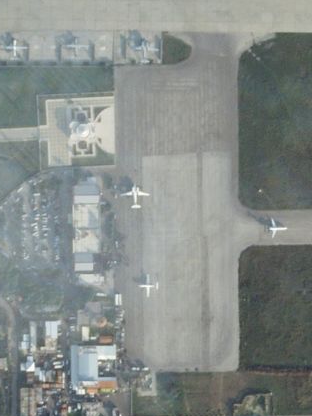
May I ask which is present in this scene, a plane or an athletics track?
plane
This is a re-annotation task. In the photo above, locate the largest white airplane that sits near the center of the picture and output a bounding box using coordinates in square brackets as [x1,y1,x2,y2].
[121,184,149,208]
